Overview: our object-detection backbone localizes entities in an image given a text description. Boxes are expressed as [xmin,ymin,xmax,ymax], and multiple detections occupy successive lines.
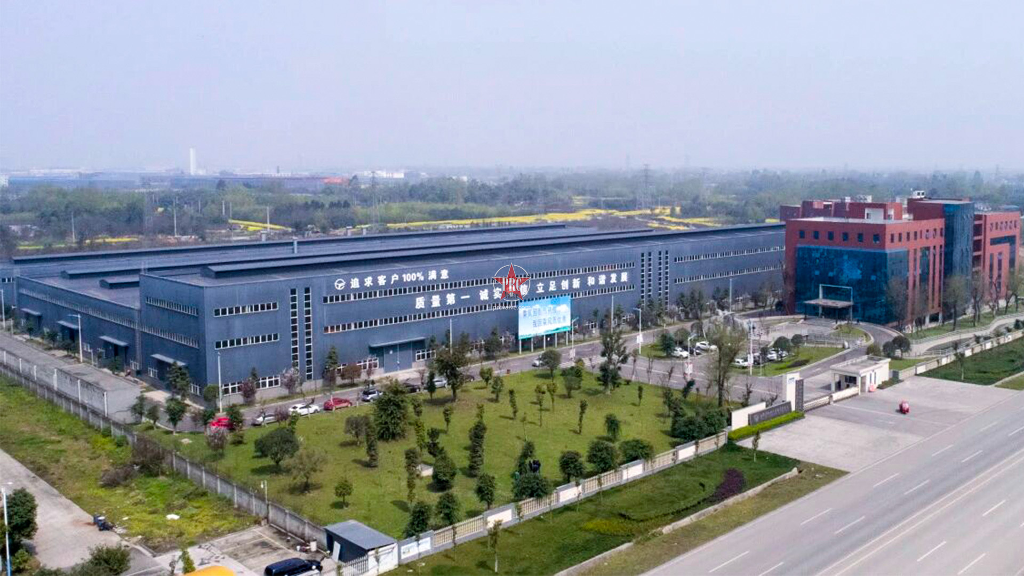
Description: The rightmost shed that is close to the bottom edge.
[318,516,398,573]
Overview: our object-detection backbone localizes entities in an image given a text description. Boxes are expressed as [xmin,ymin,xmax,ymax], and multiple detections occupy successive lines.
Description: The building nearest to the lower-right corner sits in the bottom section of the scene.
[825,354,906,397]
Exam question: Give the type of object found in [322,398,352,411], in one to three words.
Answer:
vehicle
